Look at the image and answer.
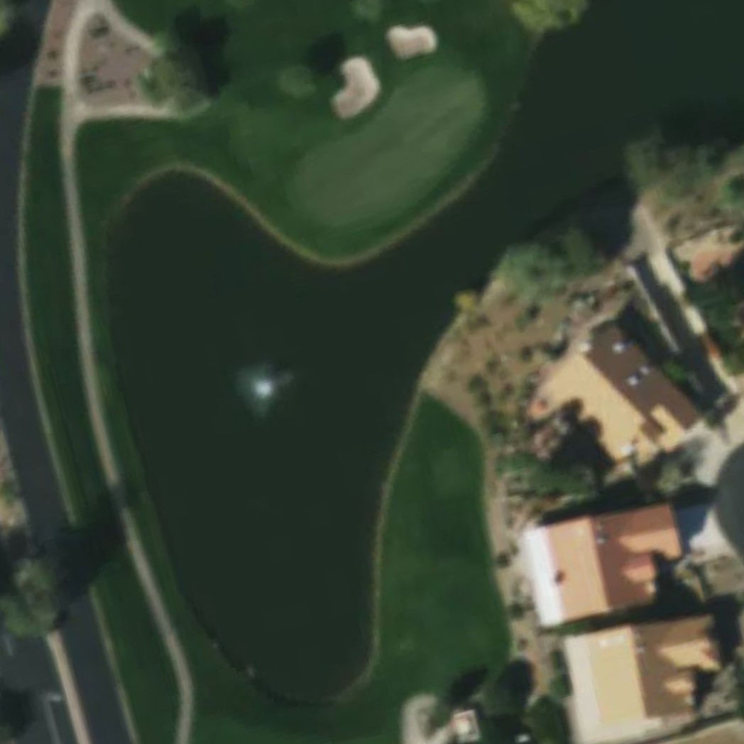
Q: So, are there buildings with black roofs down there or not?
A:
No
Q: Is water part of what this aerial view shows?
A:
Yes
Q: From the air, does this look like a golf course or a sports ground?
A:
golf course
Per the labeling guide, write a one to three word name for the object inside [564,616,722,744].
house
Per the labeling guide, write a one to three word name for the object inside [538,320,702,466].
house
